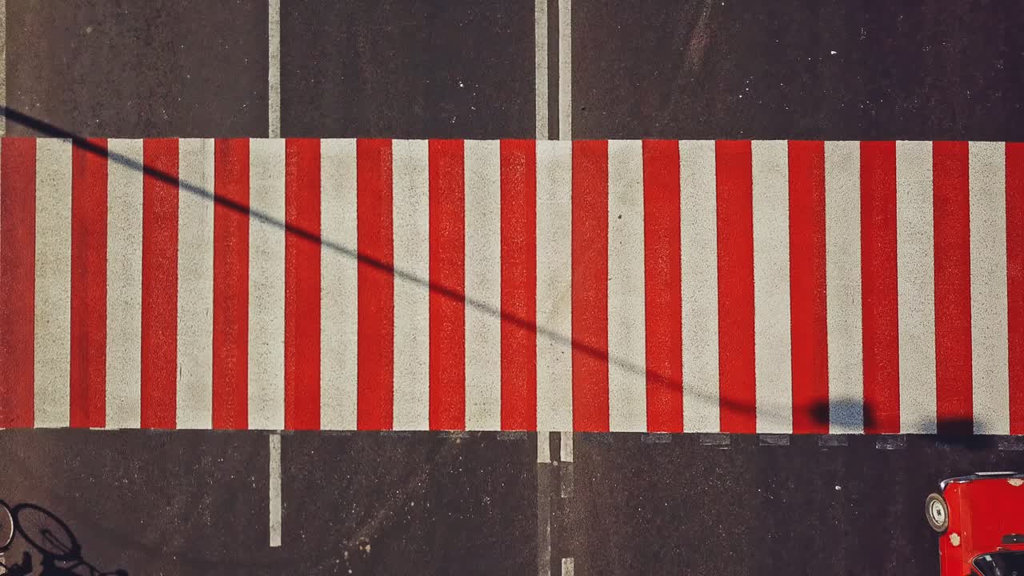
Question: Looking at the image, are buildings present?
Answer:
No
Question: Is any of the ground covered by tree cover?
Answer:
No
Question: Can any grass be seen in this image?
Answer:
No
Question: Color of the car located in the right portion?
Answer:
red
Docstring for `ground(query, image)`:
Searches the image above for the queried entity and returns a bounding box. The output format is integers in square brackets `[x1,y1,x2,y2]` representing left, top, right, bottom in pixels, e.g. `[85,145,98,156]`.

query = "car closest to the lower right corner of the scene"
[925,471,1024,576]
